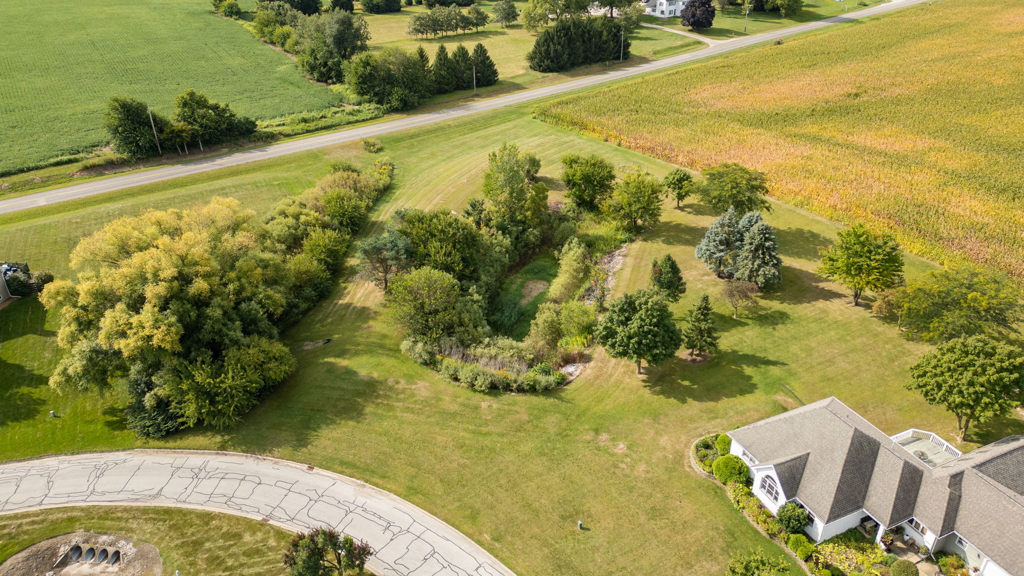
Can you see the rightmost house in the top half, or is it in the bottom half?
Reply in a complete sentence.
You can find the rightmost house in the bottom half.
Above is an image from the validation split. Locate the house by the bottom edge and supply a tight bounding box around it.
[726,393,1024,576]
